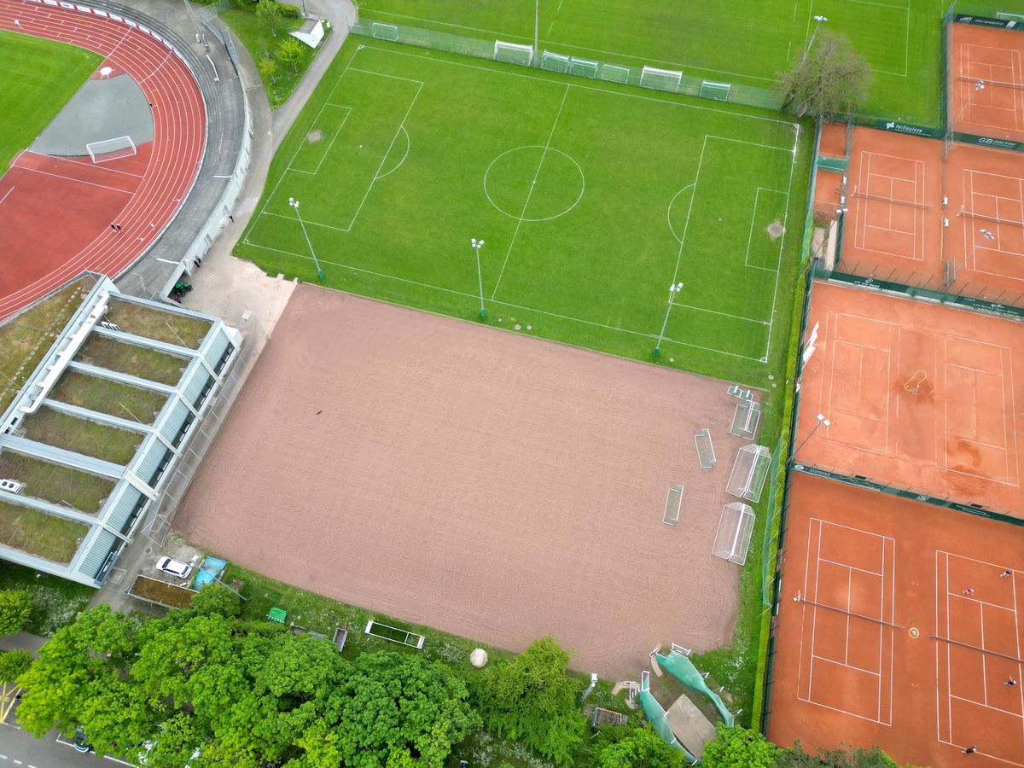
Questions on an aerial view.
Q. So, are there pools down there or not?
No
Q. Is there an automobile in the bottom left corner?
Yes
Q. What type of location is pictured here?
sports ground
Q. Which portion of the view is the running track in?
top left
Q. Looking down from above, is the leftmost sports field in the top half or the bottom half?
top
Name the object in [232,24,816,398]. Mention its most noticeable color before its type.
green soccer field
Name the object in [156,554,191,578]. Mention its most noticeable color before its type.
white car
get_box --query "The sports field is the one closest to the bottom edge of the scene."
[174,284,765,677]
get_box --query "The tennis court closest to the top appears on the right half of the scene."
[954,23,1024,141]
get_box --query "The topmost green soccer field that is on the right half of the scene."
[355,0,952,138]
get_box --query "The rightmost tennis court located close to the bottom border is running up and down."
[914,500,1024,768]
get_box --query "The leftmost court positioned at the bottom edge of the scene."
[764,470,917,768]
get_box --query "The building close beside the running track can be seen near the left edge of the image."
[0,270,242,593]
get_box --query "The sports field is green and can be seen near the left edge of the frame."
[0,31,105,180]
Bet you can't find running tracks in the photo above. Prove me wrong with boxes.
[0,9,207,323]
